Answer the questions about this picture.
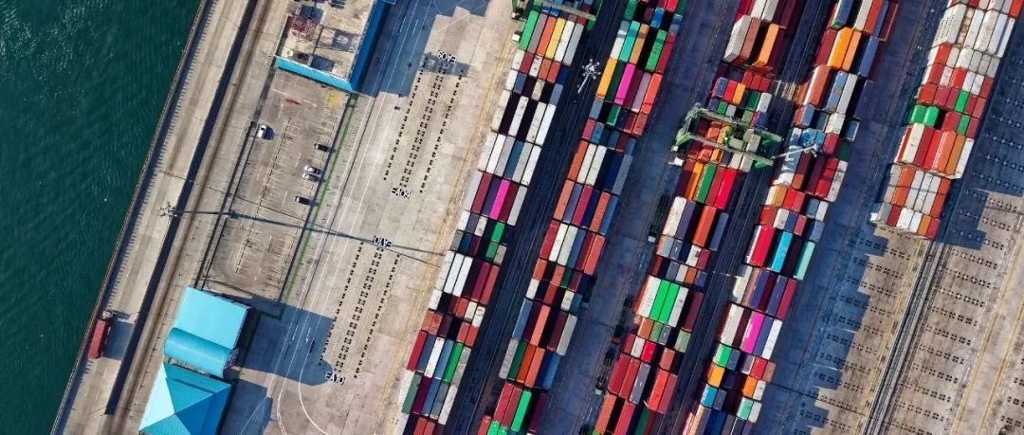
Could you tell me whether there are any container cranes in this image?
Yes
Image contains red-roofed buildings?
No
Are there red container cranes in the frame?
No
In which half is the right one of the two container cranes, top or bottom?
top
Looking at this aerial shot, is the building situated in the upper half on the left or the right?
left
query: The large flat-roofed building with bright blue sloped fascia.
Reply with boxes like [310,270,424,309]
[275,0,385,92]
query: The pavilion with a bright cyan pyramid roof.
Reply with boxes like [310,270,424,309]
[139,362,234,435]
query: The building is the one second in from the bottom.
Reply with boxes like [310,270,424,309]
[159,282,262,382]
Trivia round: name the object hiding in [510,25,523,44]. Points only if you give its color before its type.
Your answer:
white vehicle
